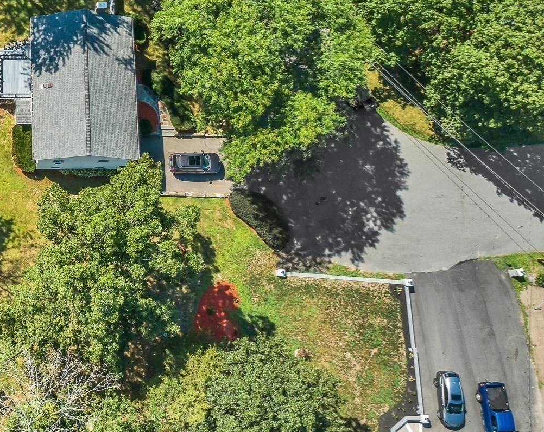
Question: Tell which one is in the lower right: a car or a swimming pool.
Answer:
car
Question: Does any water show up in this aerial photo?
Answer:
No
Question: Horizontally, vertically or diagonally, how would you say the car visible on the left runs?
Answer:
horizontally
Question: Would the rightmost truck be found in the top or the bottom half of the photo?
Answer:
bottom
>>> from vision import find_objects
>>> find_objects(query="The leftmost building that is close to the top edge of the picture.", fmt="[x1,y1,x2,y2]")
[30,0,140,167]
